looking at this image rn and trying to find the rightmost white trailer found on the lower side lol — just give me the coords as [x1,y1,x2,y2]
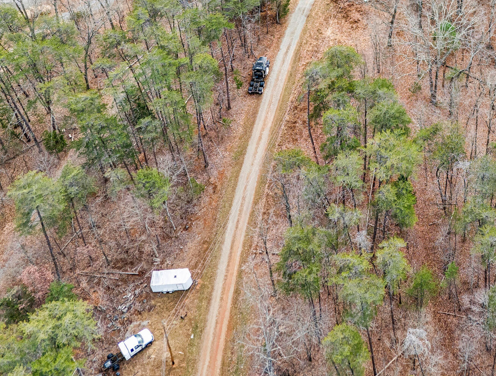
[150,267,196,293]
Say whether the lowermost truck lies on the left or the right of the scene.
left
